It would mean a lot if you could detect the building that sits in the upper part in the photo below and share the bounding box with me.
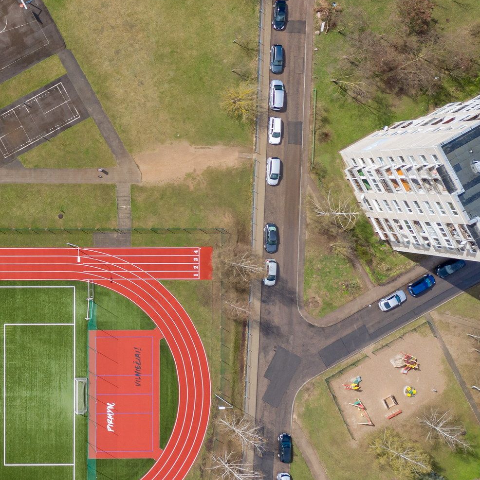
[339,89,480,263]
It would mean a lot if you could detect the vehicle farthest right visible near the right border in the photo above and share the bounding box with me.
[437,259,467,279]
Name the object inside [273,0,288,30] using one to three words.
car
